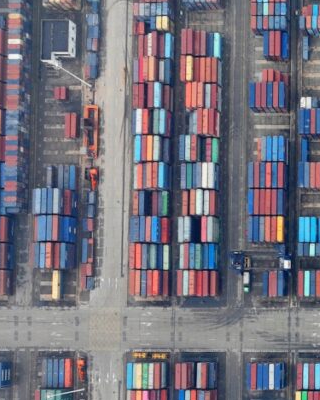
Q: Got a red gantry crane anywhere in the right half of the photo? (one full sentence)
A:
No, I can find no red gantry crane in the right half of the photo.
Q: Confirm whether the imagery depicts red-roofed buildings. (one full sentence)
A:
No, no red-roofed building is visible in the view.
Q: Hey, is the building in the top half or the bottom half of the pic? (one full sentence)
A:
The top half of the photo is where the building is.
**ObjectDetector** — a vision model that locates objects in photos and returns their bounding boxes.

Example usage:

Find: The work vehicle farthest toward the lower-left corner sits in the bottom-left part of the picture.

[73,360,88,386]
